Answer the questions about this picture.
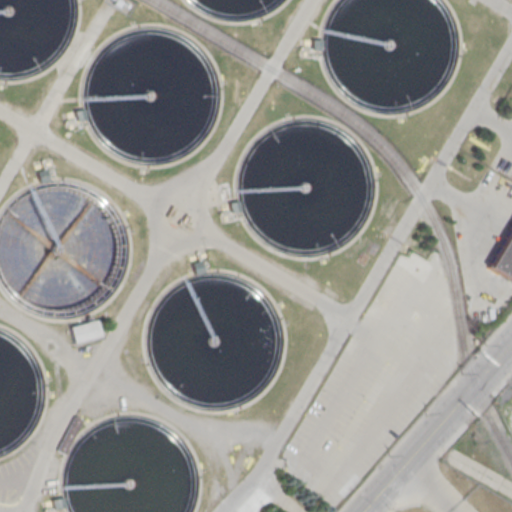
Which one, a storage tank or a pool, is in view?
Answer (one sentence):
I can see a storage tank in this picture.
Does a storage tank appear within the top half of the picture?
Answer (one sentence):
Yes, a storage tank can be seen within the top half of the picture.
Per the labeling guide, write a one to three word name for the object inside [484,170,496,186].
vehicle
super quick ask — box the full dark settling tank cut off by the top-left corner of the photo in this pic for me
[0,0,82,85]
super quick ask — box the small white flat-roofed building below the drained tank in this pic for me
[73,320,106,345]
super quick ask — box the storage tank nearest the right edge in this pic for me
[319,0,462,118]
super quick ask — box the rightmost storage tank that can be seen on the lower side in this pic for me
[142,268,287,415]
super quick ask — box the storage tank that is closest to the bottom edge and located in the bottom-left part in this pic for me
[58,411,204,512]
